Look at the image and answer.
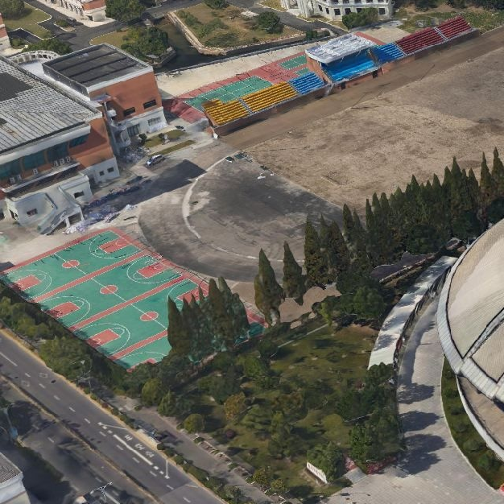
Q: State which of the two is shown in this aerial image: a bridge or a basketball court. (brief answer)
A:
basketball court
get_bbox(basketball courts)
[1,231,139,297]
[119,339,174,370]
[78,278,207,358]
[0,223,284,403]
[43,254,177,324]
